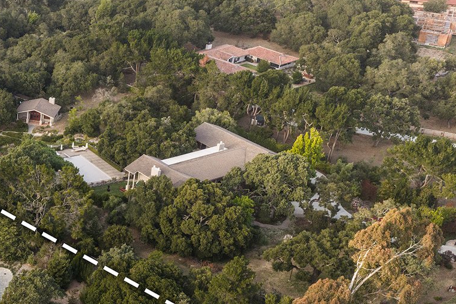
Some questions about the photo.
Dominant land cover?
trees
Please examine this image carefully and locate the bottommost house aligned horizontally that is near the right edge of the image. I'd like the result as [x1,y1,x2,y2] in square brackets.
[399,19,456,47]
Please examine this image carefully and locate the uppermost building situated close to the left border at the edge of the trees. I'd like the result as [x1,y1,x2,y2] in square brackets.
[19,95,59,128]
